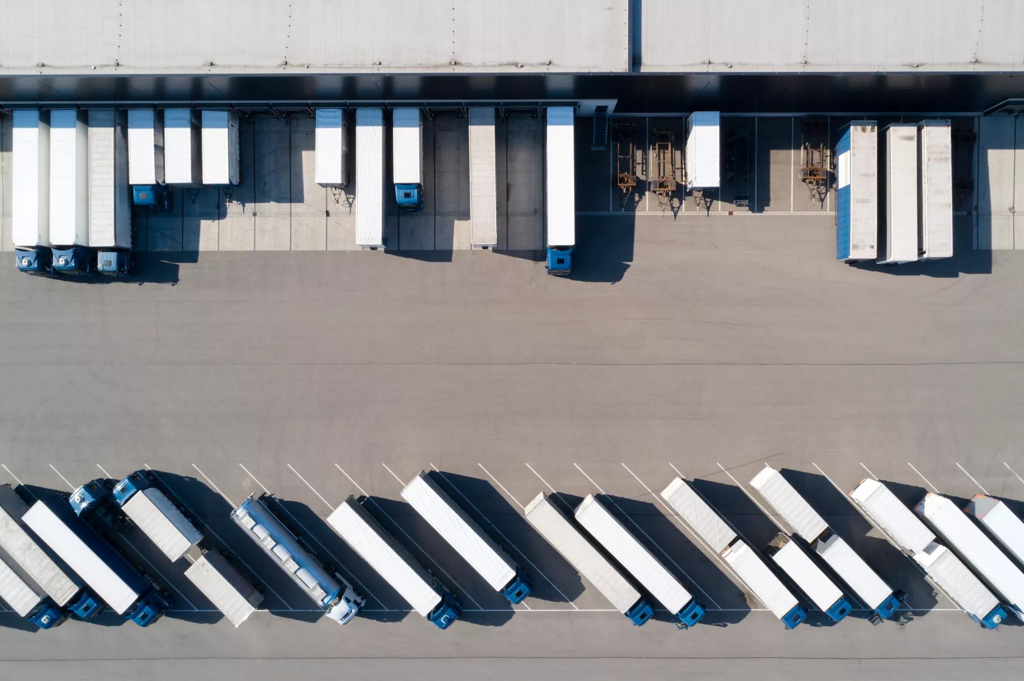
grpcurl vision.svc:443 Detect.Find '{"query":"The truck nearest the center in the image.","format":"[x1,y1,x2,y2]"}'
[546,245,575,277]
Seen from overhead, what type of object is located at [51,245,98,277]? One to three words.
truck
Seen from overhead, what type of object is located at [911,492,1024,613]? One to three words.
trailer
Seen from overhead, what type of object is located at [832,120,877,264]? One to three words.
trailer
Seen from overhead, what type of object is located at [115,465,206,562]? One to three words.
truck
